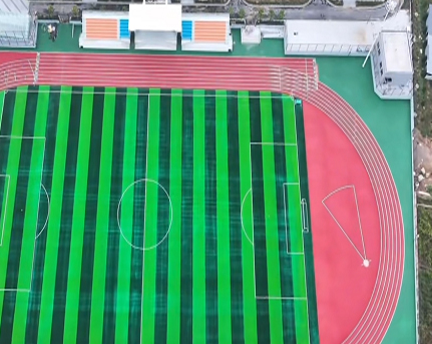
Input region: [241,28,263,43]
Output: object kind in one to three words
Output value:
shed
